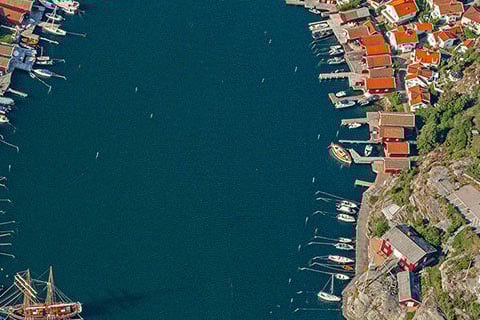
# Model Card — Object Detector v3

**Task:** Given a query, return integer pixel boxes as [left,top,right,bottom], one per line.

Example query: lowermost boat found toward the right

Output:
[319,279,341,300]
